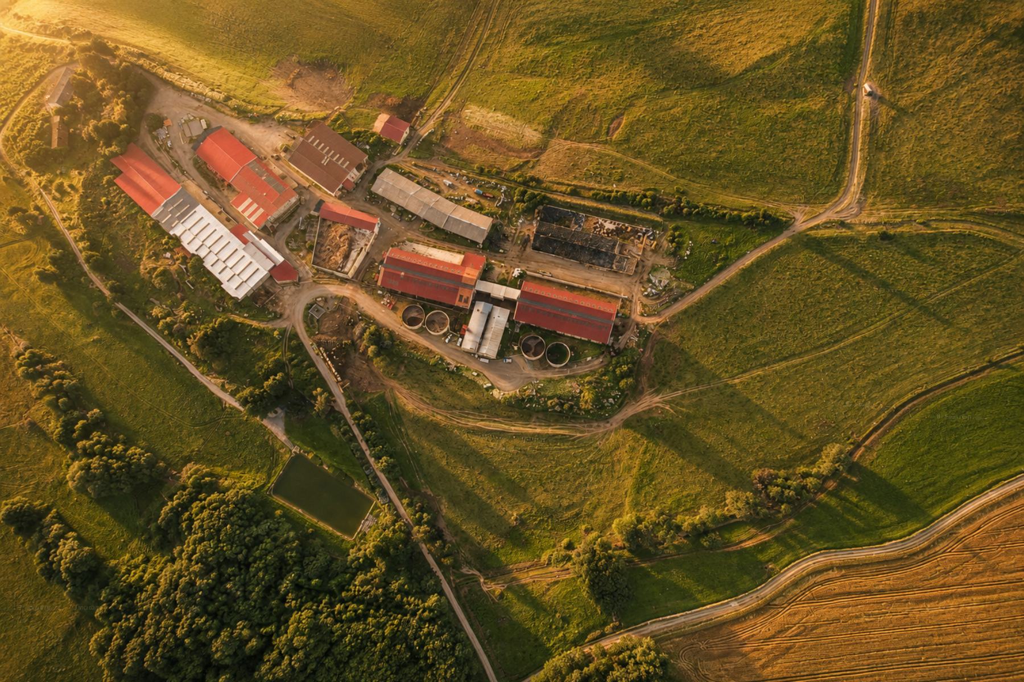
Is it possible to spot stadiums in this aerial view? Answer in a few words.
No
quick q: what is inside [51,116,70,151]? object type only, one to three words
building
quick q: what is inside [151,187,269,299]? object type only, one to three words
barn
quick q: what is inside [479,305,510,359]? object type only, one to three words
shed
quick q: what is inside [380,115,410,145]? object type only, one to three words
house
